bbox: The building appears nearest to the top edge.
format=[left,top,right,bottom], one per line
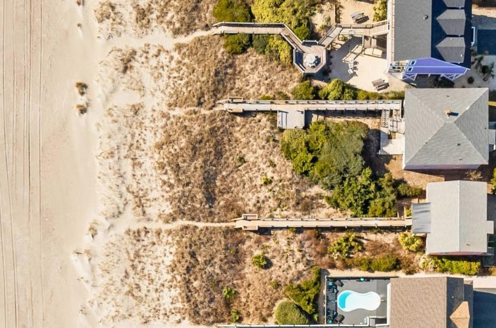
[378,0,473,86]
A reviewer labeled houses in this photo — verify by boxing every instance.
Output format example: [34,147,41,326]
[384,276,474,328]
[410,180,496,256]
[378,0,473,86]
[381,87,496,172]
